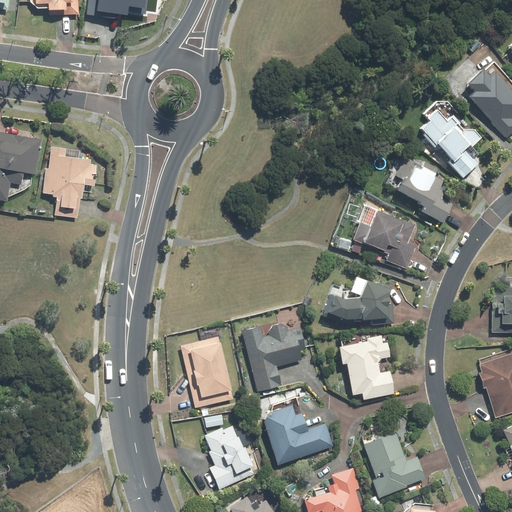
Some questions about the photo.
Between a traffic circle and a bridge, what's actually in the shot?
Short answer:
traffic circle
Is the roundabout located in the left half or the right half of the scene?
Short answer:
left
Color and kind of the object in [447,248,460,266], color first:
white vehicle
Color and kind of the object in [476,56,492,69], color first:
white vehicle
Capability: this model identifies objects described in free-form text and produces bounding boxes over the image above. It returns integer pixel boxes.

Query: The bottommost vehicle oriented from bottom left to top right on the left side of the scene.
[176,379,189,395]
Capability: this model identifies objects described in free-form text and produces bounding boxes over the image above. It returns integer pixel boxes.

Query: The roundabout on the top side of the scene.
[149,68,200,122]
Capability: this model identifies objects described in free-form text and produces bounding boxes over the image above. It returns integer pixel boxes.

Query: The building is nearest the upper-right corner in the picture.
[464,61,512,139]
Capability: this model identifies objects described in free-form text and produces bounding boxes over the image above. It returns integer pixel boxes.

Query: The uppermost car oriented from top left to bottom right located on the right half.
[446,215,462,230]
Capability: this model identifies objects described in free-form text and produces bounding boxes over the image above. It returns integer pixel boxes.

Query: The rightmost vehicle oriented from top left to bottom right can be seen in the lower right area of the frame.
[474,406,490,422]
